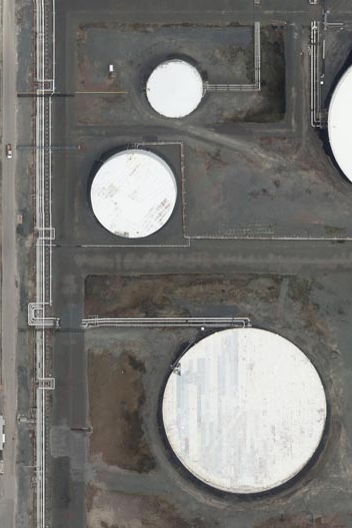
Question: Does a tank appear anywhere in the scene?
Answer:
Yes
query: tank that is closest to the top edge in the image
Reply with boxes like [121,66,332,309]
[144,57,208,120]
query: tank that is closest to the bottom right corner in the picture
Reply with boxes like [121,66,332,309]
[157,326,330,498]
